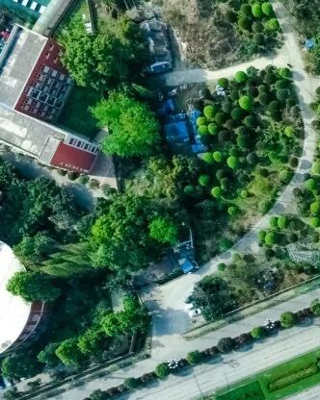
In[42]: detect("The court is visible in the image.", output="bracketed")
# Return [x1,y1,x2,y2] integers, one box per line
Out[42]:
[0,0,53,25]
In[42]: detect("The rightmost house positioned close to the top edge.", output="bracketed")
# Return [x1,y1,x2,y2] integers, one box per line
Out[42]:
[137,18,173,72]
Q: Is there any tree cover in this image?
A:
Yes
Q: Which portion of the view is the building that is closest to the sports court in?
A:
top left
